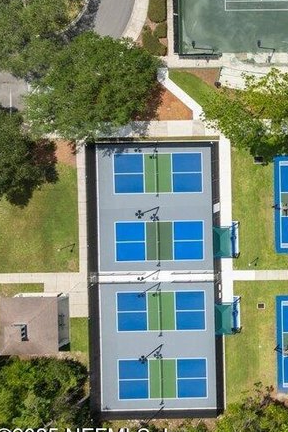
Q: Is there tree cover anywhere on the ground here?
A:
Yes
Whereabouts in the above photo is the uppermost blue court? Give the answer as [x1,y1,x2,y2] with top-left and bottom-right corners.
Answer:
[113,152,202,194]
